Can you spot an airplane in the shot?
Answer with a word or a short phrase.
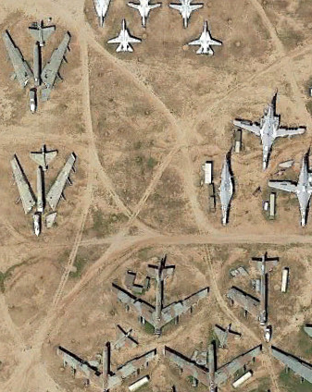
Yes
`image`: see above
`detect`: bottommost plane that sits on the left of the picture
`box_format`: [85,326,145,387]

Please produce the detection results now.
[58,344,155,392]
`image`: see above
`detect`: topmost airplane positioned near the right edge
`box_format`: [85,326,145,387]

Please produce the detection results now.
[233,97,305,171]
